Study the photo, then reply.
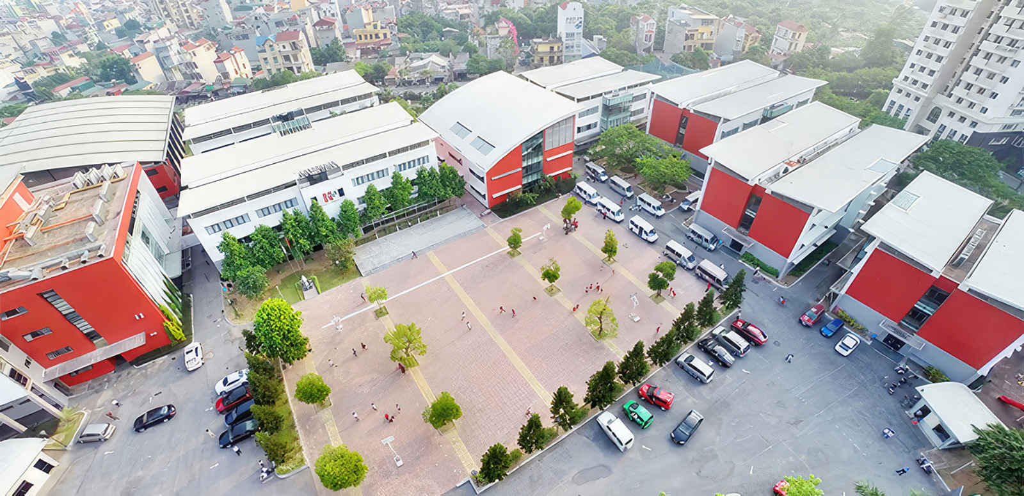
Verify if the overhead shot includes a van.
Yes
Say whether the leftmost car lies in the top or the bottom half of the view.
bottom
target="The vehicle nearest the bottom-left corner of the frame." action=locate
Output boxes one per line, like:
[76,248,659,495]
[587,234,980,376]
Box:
[75,423,118,446]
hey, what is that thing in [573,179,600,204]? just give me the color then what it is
white vehicle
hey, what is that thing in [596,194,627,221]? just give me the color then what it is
white vehicle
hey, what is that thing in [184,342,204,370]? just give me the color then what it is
white car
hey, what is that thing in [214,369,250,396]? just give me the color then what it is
white car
